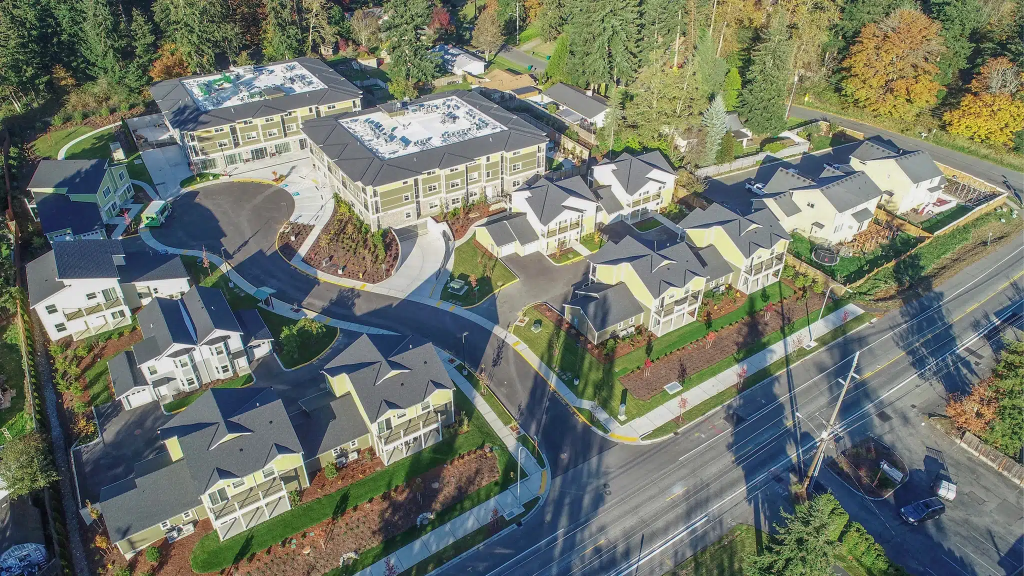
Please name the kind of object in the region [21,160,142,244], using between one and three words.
building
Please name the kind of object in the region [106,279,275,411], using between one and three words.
house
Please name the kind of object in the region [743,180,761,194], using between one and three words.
vehicle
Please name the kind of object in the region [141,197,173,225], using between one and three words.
vehicle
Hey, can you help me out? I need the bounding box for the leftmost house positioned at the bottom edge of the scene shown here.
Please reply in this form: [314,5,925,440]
[95,384,311,558]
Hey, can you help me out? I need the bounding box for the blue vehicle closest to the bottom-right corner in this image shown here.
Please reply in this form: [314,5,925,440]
[901,495,957,525]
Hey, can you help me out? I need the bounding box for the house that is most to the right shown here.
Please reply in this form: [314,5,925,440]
[831,143,944,211]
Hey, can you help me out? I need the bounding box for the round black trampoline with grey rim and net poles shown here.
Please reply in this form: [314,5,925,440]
[811,237,845,266]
